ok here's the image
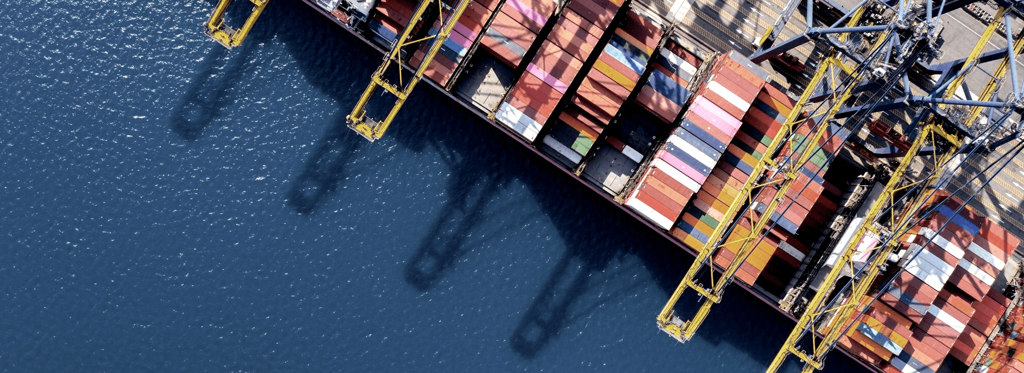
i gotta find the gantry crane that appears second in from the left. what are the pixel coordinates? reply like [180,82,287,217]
[346,0,473,144]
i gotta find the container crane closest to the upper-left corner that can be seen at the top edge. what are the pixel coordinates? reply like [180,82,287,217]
[202,0,270,55]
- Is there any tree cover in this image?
No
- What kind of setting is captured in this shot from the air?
port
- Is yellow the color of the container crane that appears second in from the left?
Yes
